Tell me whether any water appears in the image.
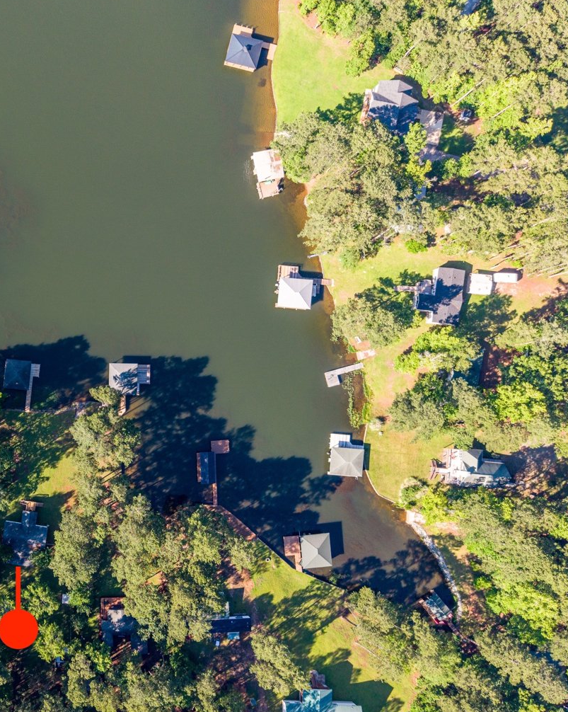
Yes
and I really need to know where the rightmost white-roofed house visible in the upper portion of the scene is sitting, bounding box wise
[464,273,493,294]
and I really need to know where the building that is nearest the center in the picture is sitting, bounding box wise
[275,264,319,311]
